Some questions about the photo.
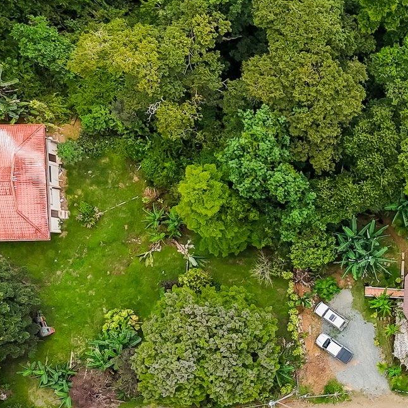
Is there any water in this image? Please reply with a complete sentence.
No, no water is visible.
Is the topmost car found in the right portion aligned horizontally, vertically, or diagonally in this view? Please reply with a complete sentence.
The topmost car found in the right portion is laid out diagonally.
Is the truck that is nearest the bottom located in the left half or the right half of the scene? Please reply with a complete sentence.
It is on the right.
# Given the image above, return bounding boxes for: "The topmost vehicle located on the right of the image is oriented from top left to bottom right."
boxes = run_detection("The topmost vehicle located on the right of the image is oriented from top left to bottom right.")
[312,302,350,333]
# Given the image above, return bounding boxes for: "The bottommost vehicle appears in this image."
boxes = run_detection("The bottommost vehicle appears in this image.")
[313,332,356,367]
